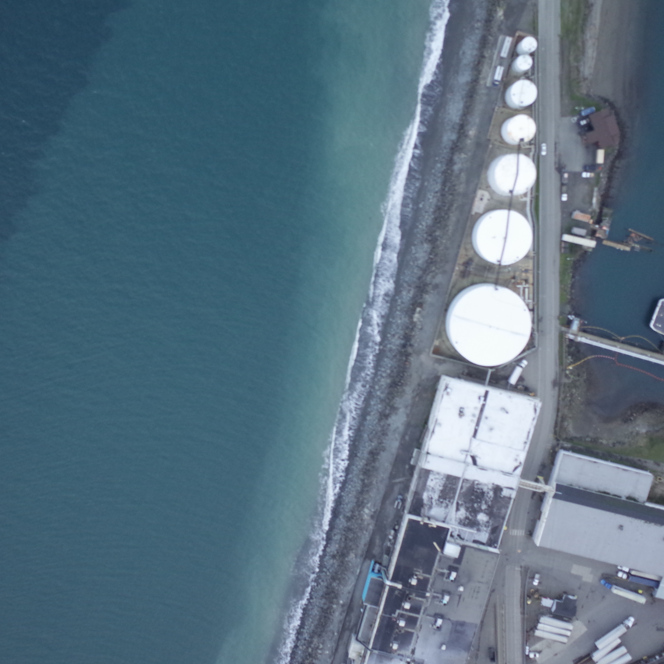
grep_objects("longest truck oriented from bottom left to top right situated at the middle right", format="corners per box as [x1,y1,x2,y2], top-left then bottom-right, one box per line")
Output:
[508,355,531,384]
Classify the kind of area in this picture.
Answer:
port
